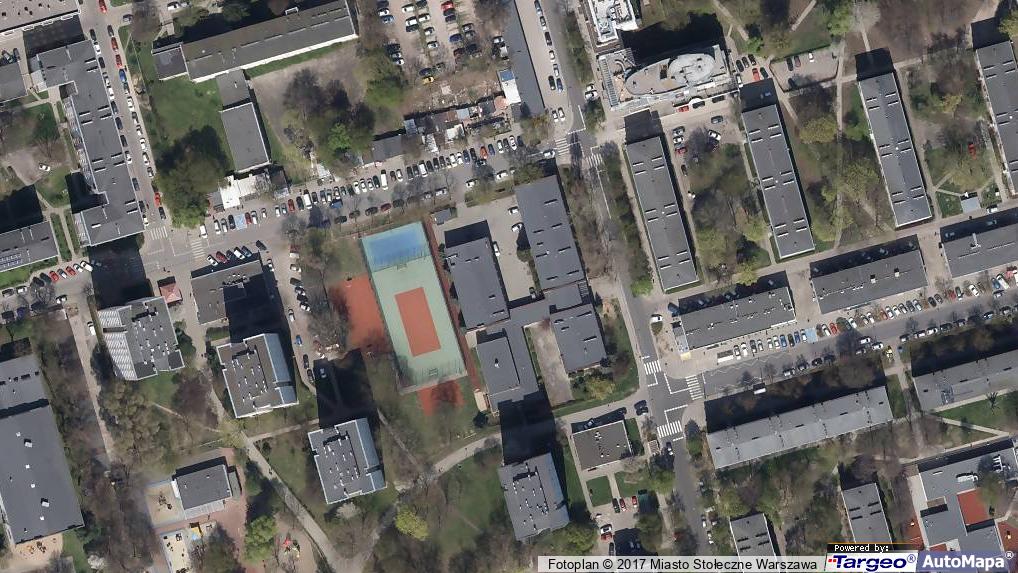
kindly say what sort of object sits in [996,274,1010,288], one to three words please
vehicle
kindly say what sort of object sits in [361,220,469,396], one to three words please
sports court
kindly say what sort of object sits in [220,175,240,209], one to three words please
building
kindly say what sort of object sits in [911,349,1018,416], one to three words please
building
